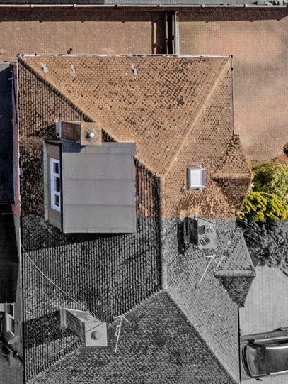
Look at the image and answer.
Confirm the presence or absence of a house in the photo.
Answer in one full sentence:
Yes, a house is visible in the scene.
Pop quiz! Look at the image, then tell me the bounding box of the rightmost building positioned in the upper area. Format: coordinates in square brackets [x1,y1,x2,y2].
[15,53,256,234]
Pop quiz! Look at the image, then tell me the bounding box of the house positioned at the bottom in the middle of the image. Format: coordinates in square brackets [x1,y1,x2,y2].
[4,203,259,384]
